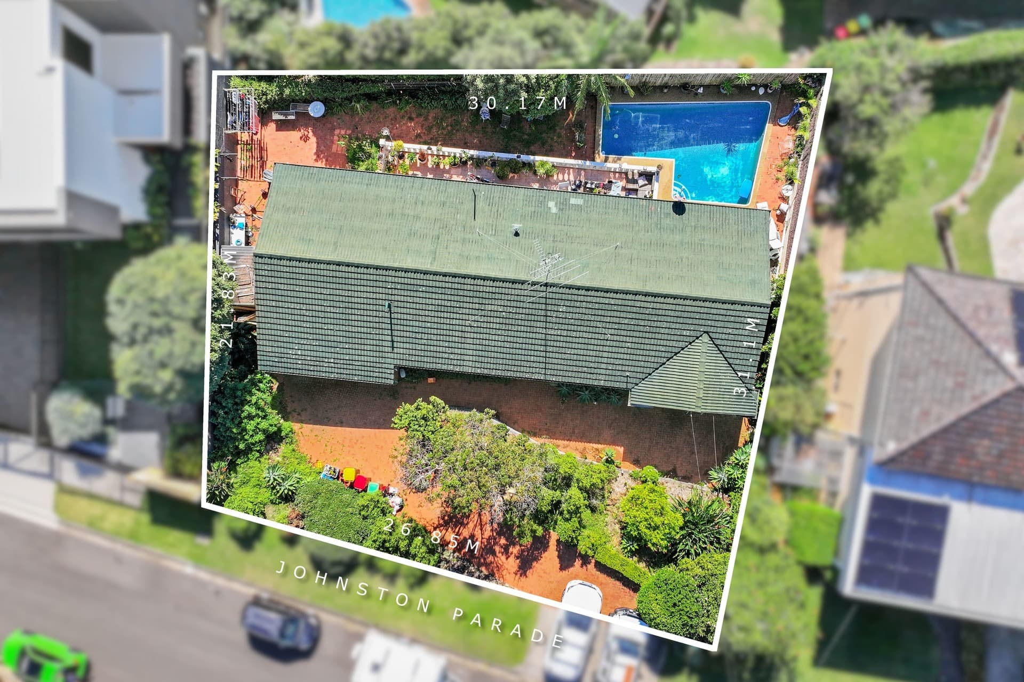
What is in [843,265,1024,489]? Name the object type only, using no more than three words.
house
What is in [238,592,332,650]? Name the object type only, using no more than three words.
car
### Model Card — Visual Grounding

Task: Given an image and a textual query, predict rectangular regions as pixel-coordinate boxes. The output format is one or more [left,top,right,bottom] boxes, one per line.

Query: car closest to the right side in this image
[601,612,649,682]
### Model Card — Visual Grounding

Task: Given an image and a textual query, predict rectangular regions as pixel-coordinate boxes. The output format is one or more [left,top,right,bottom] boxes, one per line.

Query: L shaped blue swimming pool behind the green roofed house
[600,99,771,205]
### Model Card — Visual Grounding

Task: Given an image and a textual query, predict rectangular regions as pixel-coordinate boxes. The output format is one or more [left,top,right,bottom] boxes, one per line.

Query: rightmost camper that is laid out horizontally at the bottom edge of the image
[350,629,468,682]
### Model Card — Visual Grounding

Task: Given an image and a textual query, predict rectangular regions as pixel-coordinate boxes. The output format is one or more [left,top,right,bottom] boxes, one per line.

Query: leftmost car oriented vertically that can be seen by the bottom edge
[549,577,600,682]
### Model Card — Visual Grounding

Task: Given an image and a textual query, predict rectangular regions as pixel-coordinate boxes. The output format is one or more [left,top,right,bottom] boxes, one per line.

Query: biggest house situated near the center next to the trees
[253,162,774,418]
